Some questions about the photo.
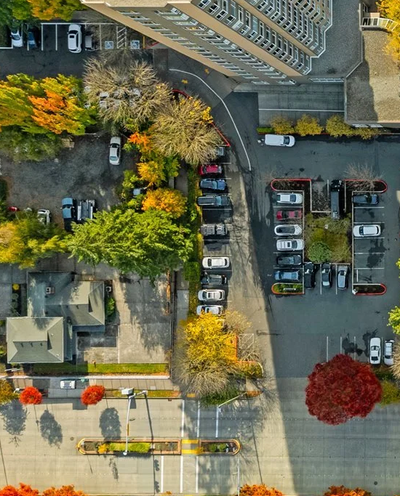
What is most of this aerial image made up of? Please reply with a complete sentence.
Most of the picture is covered by paved ground.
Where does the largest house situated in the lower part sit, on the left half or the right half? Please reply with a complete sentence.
The largest house situated in the lower part sits on the left side.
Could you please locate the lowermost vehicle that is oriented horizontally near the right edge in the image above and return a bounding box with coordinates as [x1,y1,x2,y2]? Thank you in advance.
[353,224,382,236]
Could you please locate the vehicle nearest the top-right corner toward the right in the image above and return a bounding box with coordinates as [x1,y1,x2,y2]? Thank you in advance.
[264,133,294,146]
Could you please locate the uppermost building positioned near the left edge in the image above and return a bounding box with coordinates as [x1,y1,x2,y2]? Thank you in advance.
[6,271,113,363]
